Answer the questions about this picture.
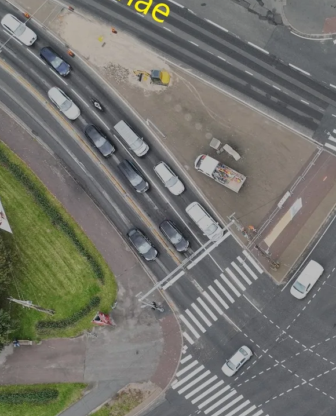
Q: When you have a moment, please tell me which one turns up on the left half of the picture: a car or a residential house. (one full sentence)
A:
There is a car on the left half of the picture.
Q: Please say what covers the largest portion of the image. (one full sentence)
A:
Most of the picture is covered by paved ground.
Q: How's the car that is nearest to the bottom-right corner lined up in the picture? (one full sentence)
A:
The car that is nearest to the bottom-right corner is oriented diagonally.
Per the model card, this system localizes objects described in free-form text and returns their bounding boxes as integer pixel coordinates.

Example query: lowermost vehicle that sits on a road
[220,343,256,379]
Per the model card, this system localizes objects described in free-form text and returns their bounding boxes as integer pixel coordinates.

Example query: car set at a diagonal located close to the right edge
[291,258,324,300]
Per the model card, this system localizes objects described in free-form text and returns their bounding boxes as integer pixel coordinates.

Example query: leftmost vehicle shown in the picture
[0,10,39,48]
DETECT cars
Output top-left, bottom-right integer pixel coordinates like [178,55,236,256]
[45,83,82,122]
[156,217,192,255]
[0,10,39,48]
[149,158,187,198]
[124,225,161,264]
[110,116,151,158]
[36,44,73,78]
[220,343,256,379]
[81,121,117,159]
[115,155,152,196]
[291,258,324,300]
